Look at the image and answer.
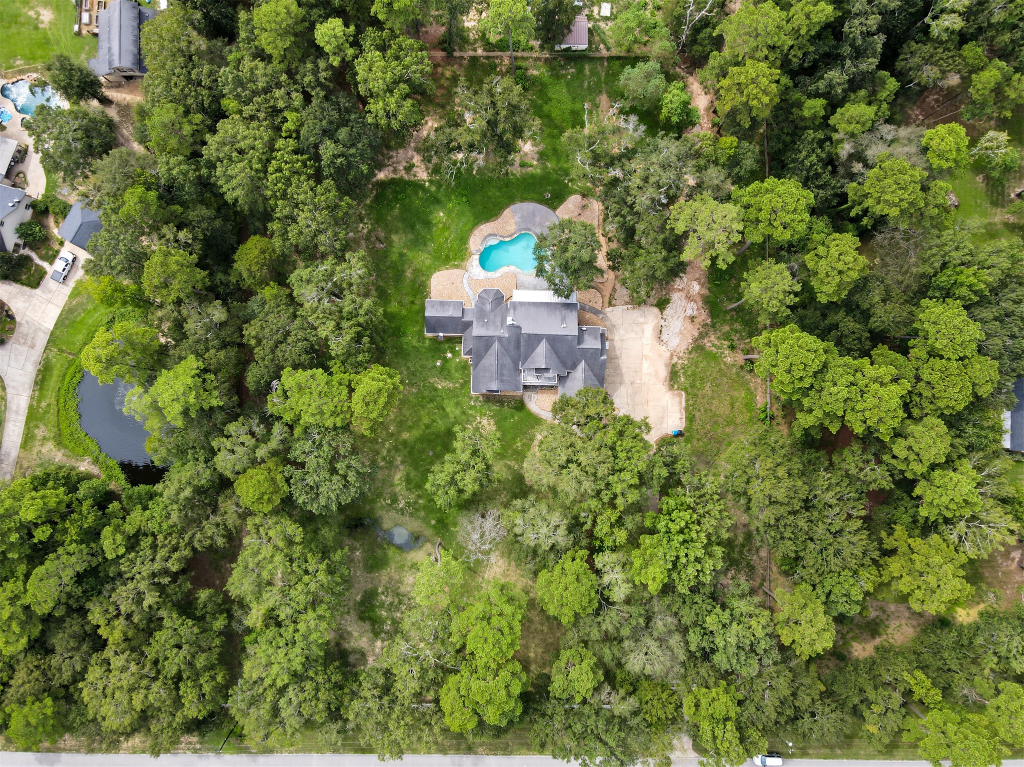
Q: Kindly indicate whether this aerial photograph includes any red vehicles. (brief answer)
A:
No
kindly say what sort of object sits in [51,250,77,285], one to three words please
truck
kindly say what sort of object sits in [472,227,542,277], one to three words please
swimming pool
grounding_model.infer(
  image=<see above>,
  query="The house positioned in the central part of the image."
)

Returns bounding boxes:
[424,288,607,401]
